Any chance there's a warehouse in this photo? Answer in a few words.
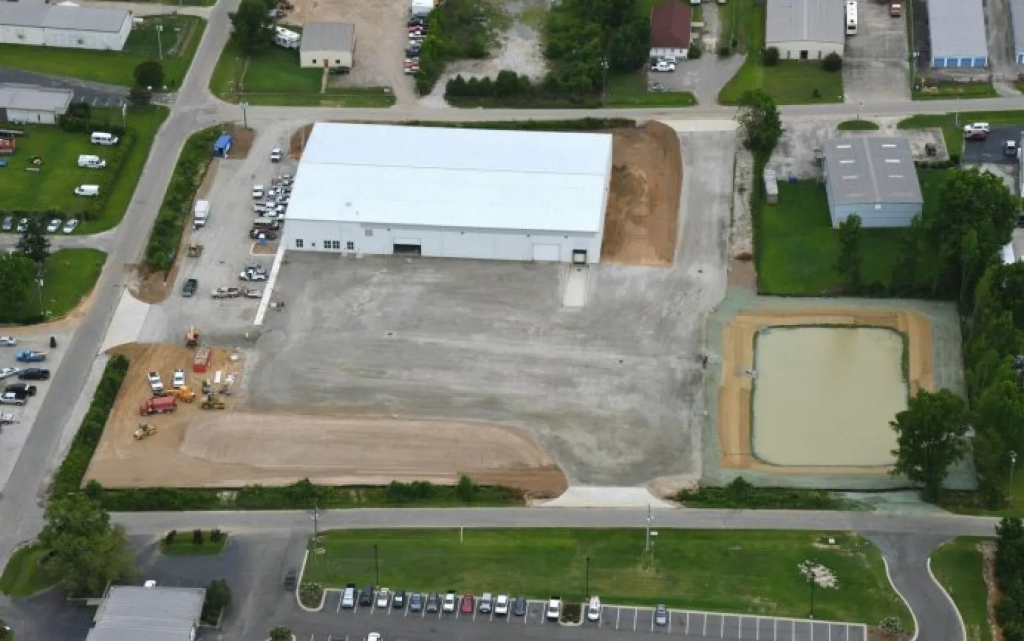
Yes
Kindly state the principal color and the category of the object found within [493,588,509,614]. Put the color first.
white vehicle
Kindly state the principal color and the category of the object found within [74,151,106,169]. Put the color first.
white vehicle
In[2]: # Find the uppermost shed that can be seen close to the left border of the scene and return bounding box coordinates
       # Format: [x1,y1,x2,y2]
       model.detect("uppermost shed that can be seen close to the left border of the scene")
[0,5,133,50]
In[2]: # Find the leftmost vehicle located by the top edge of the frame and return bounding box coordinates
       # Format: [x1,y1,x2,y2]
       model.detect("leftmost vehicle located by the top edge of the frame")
[271,29,300,48]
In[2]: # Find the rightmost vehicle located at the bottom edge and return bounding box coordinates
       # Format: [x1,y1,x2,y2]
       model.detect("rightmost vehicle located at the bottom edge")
[654,602,669,623]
